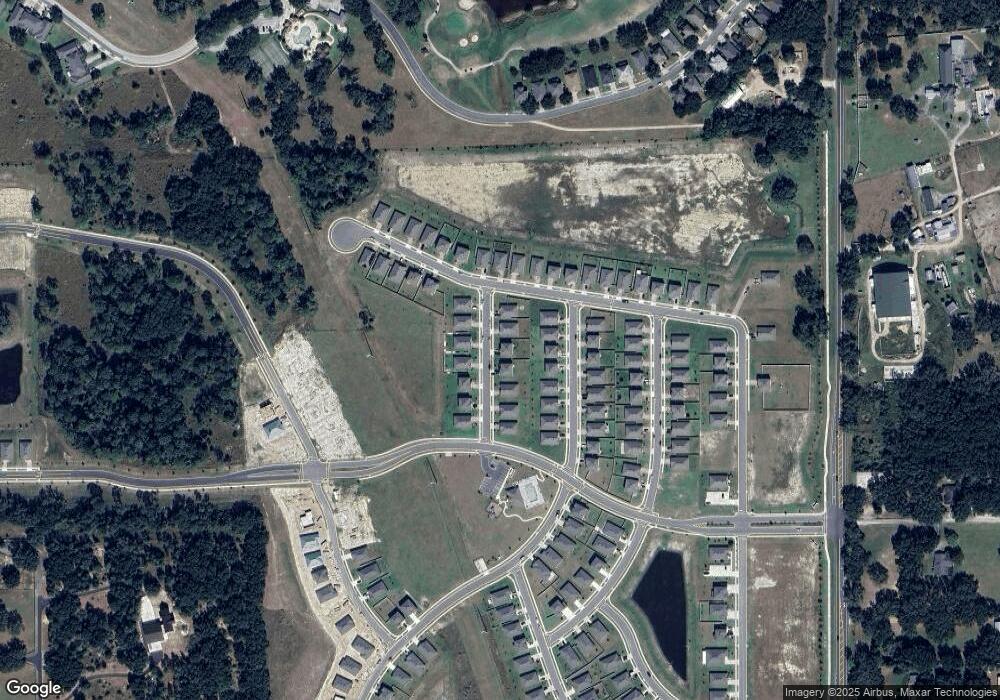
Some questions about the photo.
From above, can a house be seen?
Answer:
Yes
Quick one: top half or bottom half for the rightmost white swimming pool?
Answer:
bottom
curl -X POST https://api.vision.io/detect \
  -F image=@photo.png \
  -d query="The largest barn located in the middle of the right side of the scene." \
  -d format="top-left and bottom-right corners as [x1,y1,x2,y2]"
[874,272,912,319]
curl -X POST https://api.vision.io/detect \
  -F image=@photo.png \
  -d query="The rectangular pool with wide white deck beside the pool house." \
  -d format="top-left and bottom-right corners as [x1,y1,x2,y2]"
[520,476,545,509]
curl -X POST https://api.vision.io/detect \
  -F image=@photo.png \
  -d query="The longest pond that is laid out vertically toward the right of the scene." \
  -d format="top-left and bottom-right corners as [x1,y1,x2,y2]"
[633,550,687,679]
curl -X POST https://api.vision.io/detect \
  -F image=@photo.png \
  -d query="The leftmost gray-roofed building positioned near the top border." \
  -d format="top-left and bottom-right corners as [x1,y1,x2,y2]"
[9,0,50,40]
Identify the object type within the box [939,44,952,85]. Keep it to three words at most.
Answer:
building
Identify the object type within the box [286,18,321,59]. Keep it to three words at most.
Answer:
swimming pool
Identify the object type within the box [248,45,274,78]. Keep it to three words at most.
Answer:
tennis court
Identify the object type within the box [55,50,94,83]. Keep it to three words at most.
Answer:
house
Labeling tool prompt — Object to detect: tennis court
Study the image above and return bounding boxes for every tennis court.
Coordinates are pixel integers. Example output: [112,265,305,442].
[262,34,292,65]
[248,45,274,78]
